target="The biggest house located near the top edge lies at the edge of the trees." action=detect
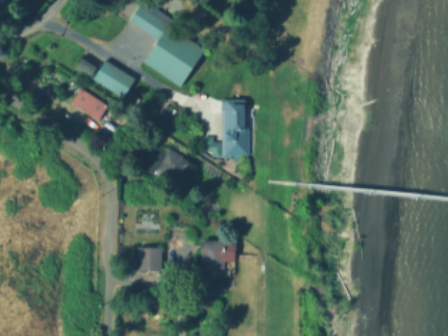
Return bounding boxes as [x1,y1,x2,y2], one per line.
[130,6,204,86]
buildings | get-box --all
[206,99,251,162]
[150,144,196,184]
[72,90,108,122]
[202,242,236,272]
[76,57,98,77]
[130,6,204,86]
[137,248,163,272]
[94,60,134,97]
